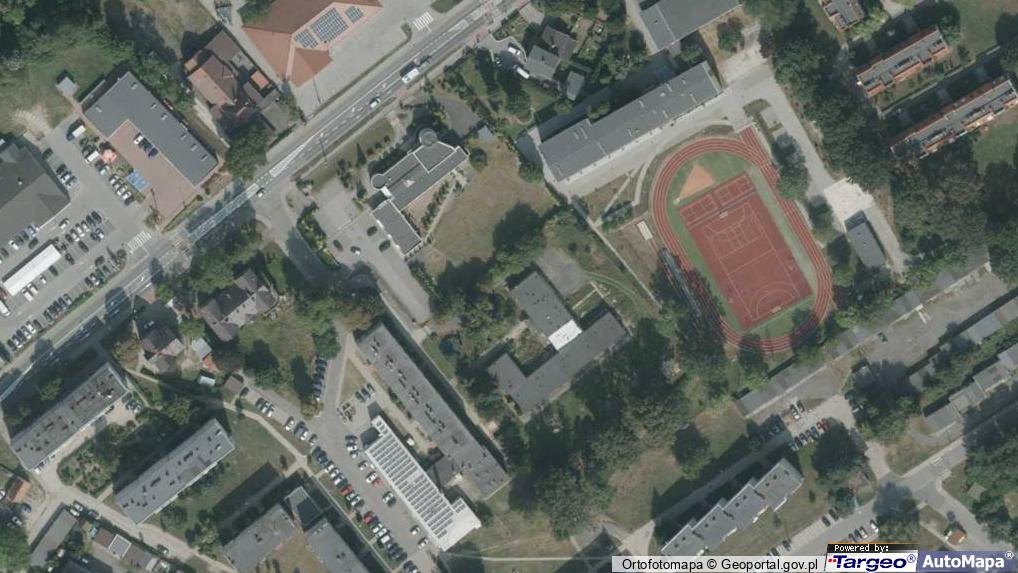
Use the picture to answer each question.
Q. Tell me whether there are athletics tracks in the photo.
Yes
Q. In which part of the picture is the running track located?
right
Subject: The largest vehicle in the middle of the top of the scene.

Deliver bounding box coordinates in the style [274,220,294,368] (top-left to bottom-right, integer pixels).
[400,65,423,84]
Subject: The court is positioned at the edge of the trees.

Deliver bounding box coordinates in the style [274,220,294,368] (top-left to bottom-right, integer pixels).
[679,171,812,328]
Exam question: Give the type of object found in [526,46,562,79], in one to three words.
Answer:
house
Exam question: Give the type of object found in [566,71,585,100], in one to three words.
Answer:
shed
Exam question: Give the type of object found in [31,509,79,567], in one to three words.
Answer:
building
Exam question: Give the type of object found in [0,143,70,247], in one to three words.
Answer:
building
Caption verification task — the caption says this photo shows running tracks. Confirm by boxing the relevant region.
[649,125,833,354]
